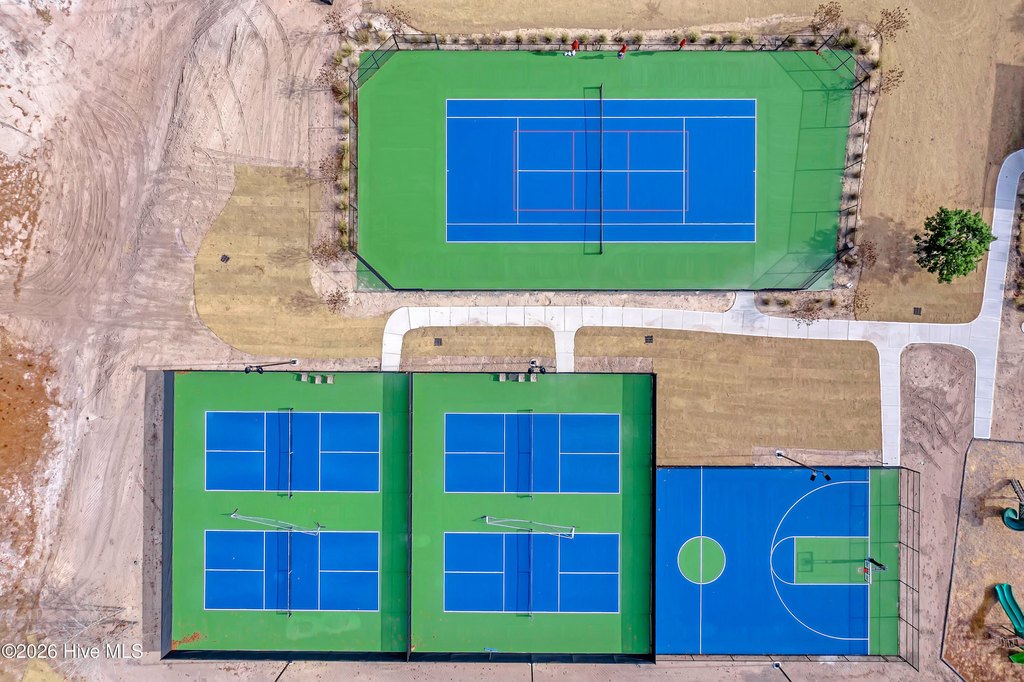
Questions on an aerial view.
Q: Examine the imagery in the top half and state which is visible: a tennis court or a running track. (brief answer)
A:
tennis court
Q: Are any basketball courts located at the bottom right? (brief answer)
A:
Yes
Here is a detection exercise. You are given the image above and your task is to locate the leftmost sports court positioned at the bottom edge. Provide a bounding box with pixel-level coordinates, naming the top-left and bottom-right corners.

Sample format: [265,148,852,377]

[172,510,408,653]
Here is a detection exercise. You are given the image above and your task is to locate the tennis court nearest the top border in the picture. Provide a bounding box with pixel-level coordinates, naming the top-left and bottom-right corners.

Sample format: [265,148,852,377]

[356,51,856,291]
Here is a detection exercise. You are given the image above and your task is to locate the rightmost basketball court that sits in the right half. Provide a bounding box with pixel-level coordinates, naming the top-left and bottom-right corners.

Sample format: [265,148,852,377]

[657,467,899,656]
